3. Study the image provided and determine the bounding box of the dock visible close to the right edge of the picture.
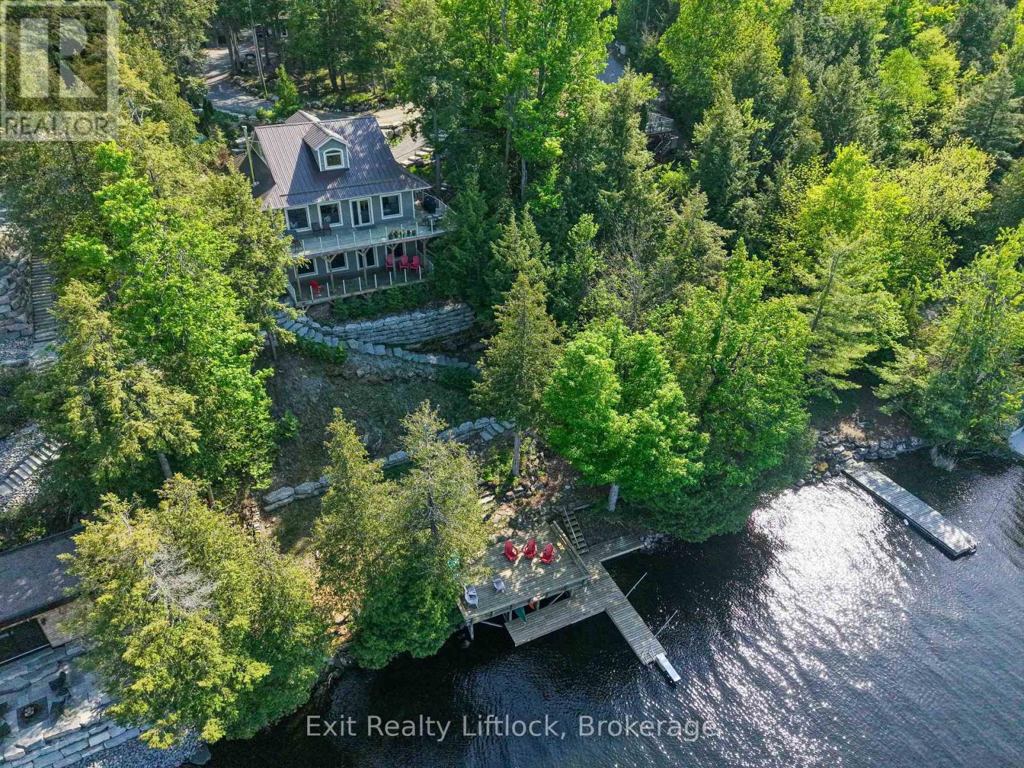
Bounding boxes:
[844,465,980,562]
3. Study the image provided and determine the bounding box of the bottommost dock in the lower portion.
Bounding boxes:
[503,533,671,669]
